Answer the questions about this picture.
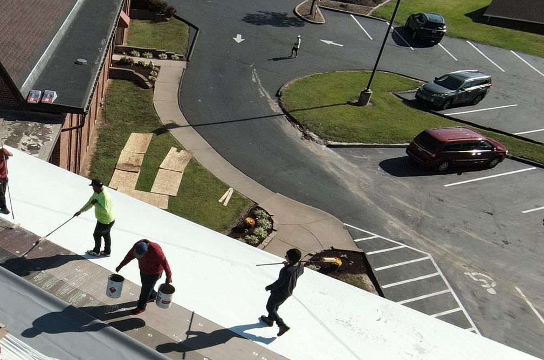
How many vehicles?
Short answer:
3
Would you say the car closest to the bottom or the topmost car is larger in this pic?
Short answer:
the car closest to the bottom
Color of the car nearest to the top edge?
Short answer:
black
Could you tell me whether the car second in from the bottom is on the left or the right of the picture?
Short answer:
right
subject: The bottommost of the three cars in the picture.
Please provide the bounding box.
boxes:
[405,122,517,172]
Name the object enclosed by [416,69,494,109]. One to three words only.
car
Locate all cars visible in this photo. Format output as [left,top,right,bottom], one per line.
[407,15,446,40]
[416,69,494,109]
[405,122,517,172]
